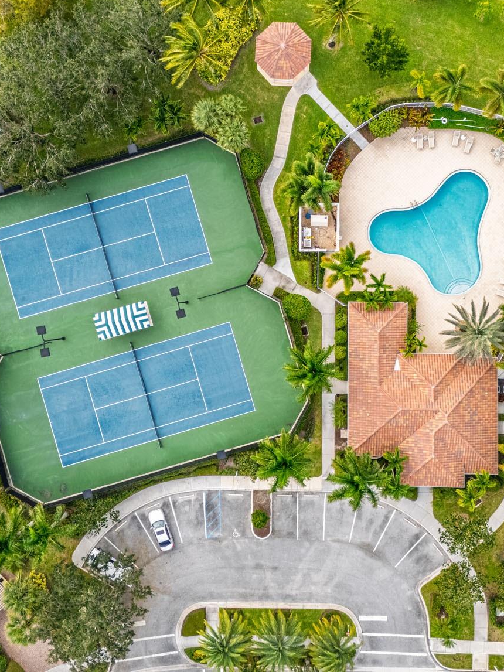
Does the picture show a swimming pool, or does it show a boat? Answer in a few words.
swimming pool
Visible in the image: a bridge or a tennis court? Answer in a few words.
tennis court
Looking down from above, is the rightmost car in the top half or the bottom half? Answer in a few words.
bottom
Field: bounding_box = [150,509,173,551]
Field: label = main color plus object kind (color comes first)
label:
white car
